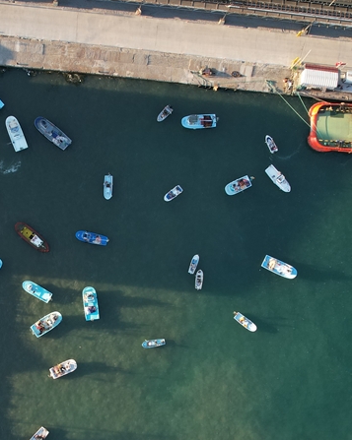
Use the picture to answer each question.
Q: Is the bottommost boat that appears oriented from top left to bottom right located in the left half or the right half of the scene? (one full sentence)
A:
You can find the bottommost boat that appears oriented from top left to bottom right on the right side of the picture.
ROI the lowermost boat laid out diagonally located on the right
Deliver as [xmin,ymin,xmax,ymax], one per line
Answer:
[231,310,257,333]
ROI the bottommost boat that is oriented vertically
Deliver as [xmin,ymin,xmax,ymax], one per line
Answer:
[83,286,98,322]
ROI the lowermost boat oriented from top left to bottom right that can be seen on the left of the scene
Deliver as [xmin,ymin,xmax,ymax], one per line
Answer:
[22,281,54,304]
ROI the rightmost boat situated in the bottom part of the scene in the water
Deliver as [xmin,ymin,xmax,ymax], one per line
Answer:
[260,254,297,278]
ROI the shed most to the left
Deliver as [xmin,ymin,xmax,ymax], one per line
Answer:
[297,62,338,94]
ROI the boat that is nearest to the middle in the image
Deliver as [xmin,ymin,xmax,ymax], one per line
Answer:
[164,185,184,201]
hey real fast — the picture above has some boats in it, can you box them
[28,312,61,340]
[264,135,278,155]
[157,105,173,122]
[6,115,28,152]
[22,281,54,304]
[187,255,199,276]
[15,222,48,252]
[231,310,257,333]
[141,338,167,349]
[260,254,297,278]
[83,286,98,322]
[181,114,219,129]
[164,185,184,201]
[195,269,203,292]
[224,174,254,194]
[47,360,77,380]
[104,173,112,200]
[262,162,290,192]
[37,118,72,151]
[75,231,110,246]
[30,425,51,440]
[306,102,352,155]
